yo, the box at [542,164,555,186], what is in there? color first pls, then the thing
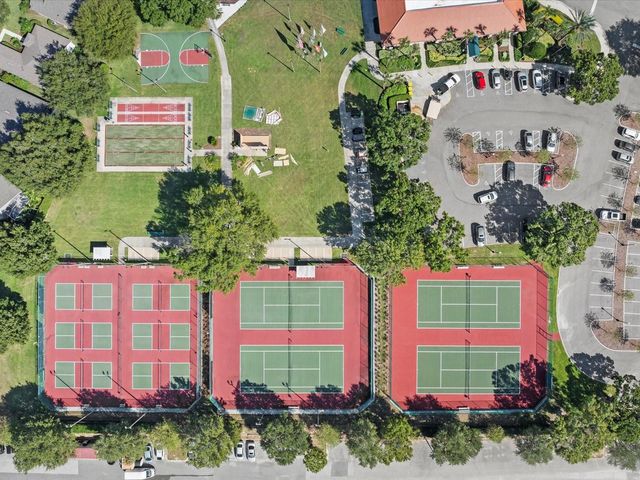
red vehicle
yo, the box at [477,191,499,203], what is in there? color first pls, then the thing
white vehicle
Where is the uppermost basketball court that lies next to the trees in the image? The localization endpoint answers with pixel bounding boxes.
[141,32,208,84]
